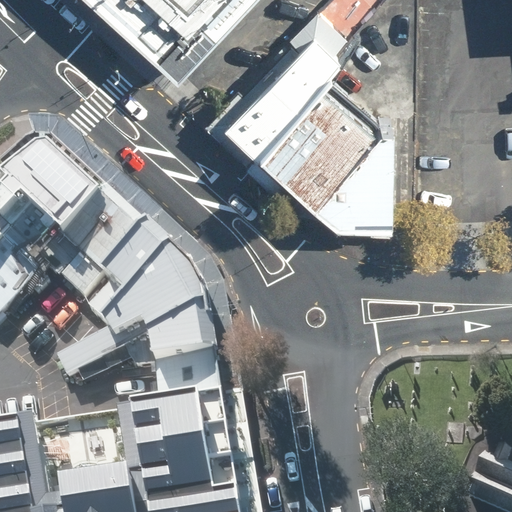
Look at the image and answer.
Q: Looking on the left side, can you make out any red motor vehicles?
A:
Yes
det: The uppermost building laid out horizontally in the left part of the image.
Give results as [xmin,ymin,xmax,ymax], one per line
[56,0,266,92]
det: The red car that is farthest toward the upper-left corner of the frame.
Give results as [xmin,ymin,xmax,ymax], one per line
[117,145,146,173]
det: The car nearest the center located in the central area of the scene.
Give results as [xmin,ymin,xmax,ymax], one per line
[228,192,258,223]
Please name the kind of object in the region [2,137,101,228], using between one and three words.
building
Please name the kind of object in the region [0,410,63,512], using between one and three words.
house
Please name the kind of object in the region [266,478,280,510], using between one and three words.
car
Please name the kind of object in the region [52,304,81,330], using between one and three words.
car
